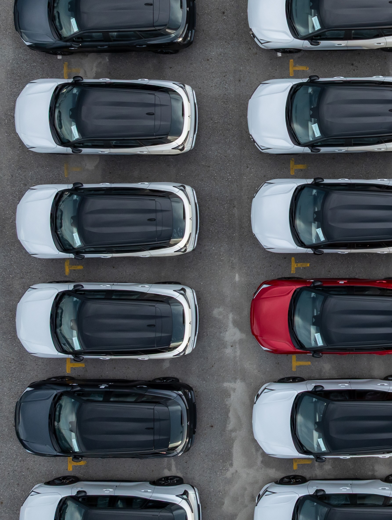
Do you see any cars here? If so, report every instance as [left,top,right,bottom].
[249,276,392,360]
[254,475,392,520]
[17,476,201,520]
[12,73,198,156]
[247,73,392,156]
[252,375,392,466]
[14,177,199,261]
[11,0,196,54]
[14,280,198,364]
[11,374,197,463]
[250,174,392,258]
[246,0,392,53]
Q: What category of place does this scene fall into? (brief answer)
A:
parking lot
